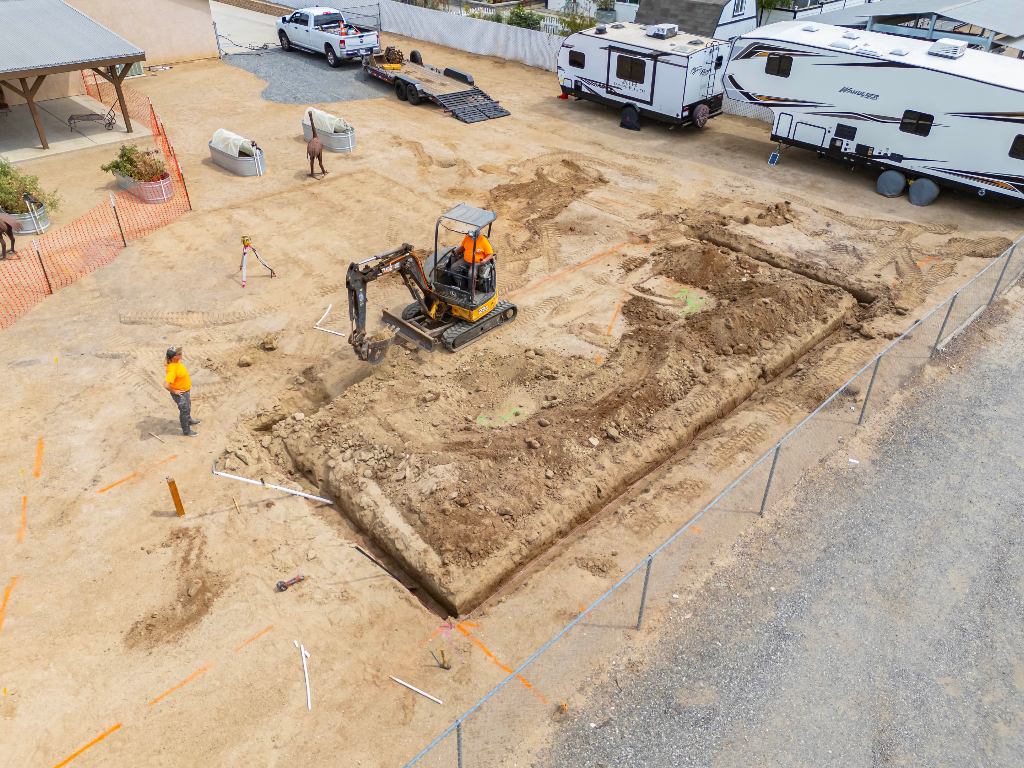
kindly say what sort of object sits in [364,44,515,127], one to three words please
trailer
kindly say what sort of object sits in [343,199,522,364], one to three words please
work vehicle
